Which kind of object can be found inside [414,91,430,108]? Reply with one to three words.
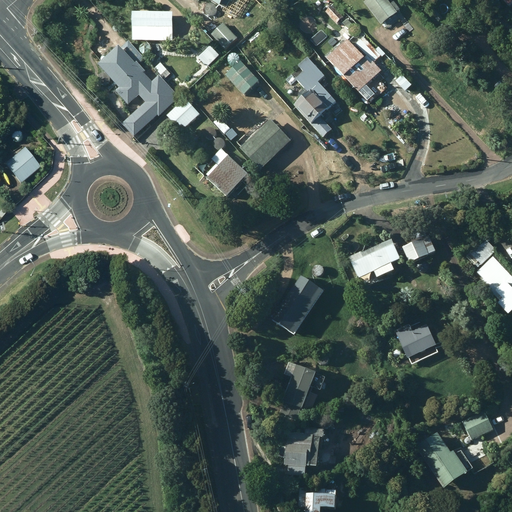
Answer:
vehicle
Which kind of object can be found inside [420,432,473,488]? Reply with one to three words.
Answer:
house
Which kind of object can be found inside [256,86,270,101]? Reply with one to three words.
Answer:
car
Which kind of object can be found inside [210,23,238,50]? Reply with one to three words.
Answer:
shed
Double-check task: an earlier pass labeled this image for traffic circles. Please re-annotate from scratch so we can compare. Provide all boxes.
[86,175,133,222]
